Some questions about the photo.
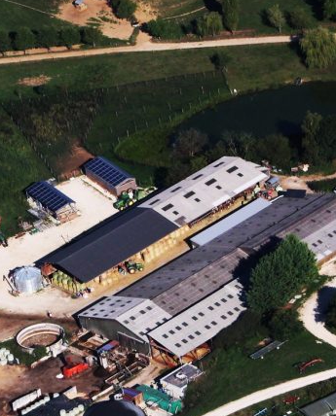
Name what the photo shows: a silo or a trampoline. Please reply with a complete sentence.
I can see a silo in this picture.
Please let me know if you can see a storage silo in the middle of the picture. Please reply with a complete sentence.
No, no storage silo appears in the middle of the picture.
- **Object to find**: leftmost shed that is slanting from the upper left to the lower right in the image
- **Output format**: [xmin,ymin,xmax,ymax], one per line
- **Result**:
[26,180,77,223]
